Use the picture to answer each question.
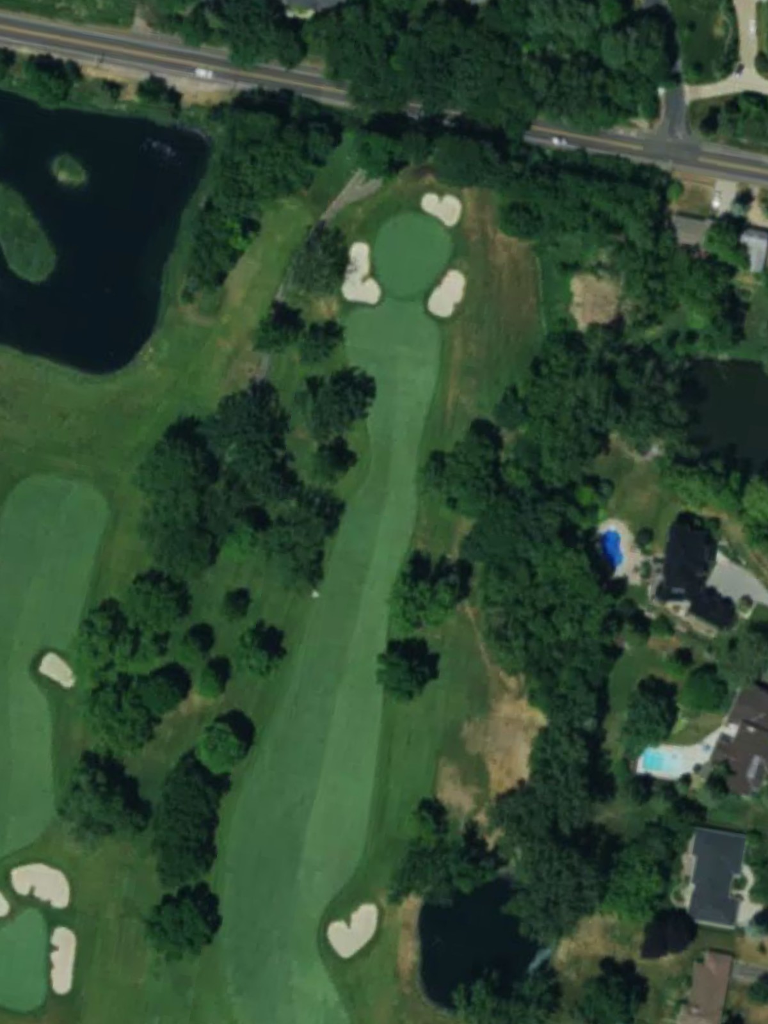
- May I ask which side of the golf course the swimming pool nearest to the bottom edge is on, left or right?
to the right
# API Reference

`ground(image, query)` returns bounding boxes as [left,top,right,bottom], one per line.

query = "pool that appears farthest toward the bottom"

[642,747,683,773]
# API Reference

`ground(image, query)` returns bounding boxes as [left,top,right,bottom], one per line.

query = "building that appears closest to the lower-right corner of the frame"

[679,951,732,1024]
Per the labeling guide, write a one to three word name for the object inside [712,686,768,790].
house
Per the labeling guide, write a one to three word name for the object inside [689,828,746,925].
house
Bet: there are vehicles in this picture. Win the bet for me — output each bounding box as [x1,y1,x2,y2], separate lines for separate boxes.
[550,137,567,146]
[748,18,757,34]
[734,61,744,77]
[195,69,213,79]
[311,590,318,599]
